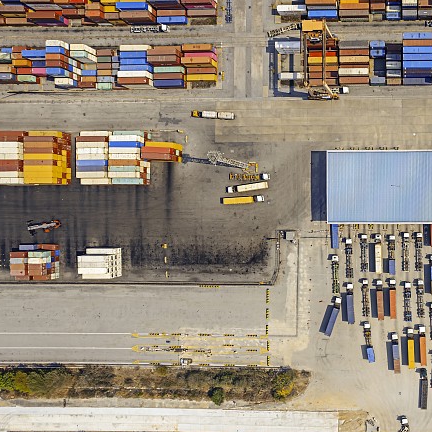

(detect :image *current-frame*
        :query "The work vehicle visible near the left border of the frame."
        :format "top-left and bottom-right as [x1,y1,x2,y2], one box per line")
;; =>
[18,219,59,237]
